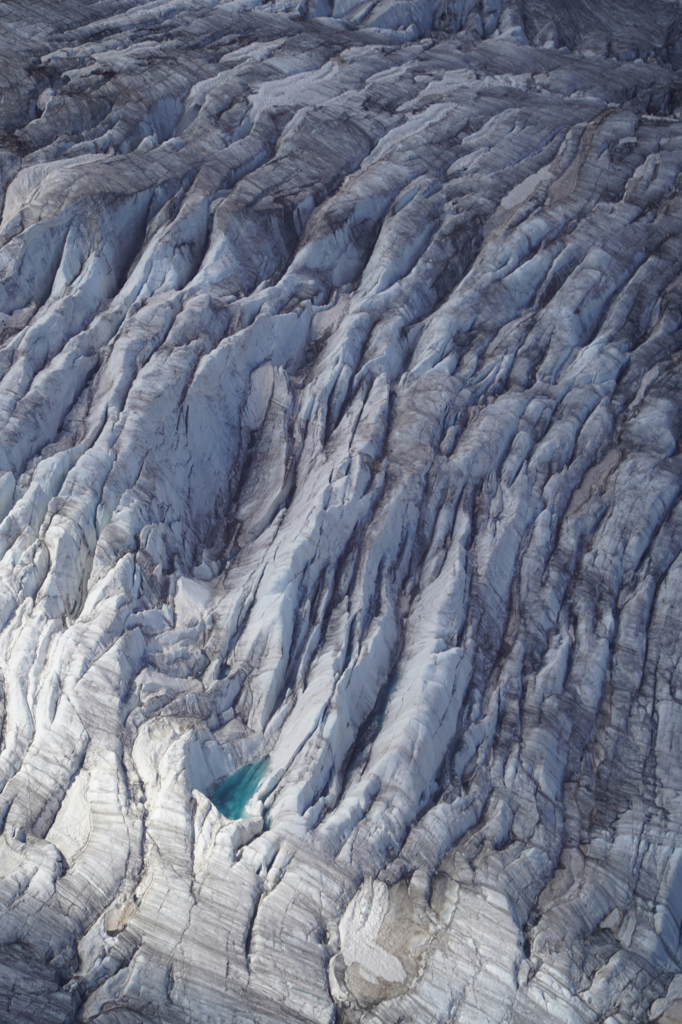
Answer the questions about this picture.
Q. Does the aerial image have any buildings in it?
No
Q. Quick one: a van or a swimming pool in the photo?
swimming pool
